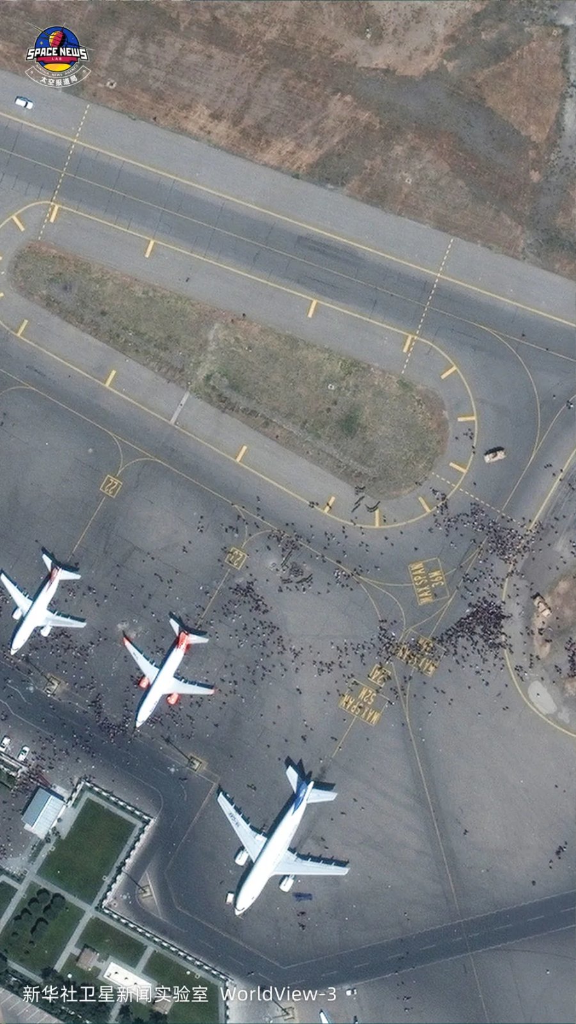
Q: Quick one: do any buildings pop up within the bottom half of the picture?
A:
Yes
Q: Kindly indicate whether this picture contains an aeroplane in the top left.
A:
No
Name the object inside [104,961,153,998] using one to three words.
building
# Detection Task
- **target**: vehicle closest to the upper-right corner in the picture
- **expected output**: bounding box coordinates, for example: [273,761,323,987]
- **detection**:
[483,448,504,463]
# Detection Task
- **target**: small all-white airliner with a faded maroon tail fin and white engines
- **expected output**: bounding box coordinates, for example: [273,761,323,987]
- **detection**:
[3,552,84,654]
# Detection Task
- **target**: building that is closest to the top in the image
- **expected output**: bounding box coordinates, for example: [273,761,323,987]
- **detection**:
[22,787,68,840]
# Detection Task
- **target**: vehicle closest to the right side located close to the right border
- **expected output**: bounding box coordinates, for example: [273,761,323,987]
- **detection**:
[530,591,552,619]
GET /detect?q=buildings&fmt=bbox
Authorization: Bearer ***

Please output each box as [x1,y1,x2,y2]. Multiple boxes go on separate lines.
[154,994,173,1014]
[22,787,68,840]
[104,961,153,998]
[77,948,97,970]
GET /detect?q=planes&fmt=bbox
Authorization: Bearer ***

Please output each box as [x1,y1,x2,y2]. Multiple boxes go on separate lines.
[316,1010,330,1024]
[122,616,213,728]
[3,552,84,654]
[219,766,348,916]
